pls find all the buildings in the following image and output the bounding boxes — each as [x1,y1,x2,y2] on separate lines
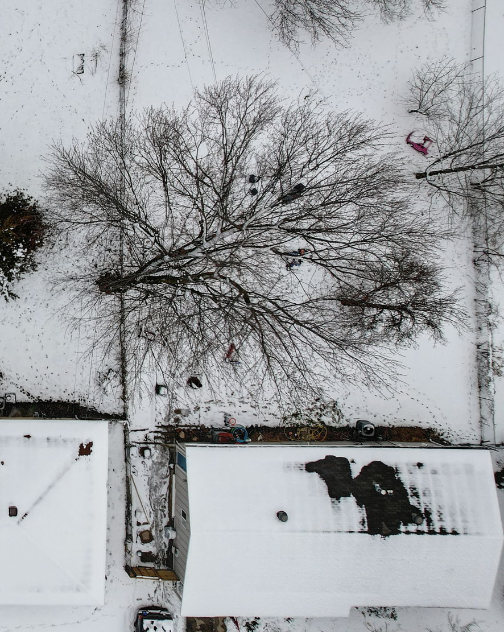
[170,427,504,617]
[0,418,108,607]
